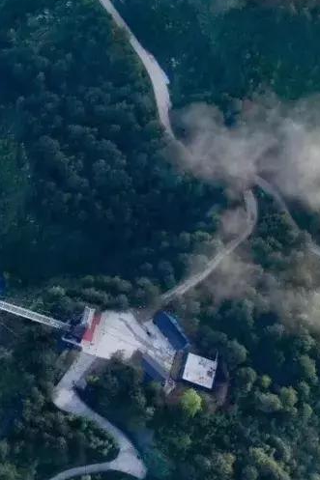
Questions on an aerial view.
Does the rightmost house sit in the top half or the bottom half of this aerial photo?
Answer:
bottom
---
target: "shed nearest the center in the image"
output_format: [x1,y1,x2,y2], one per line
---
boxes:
[152,311,191,352]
